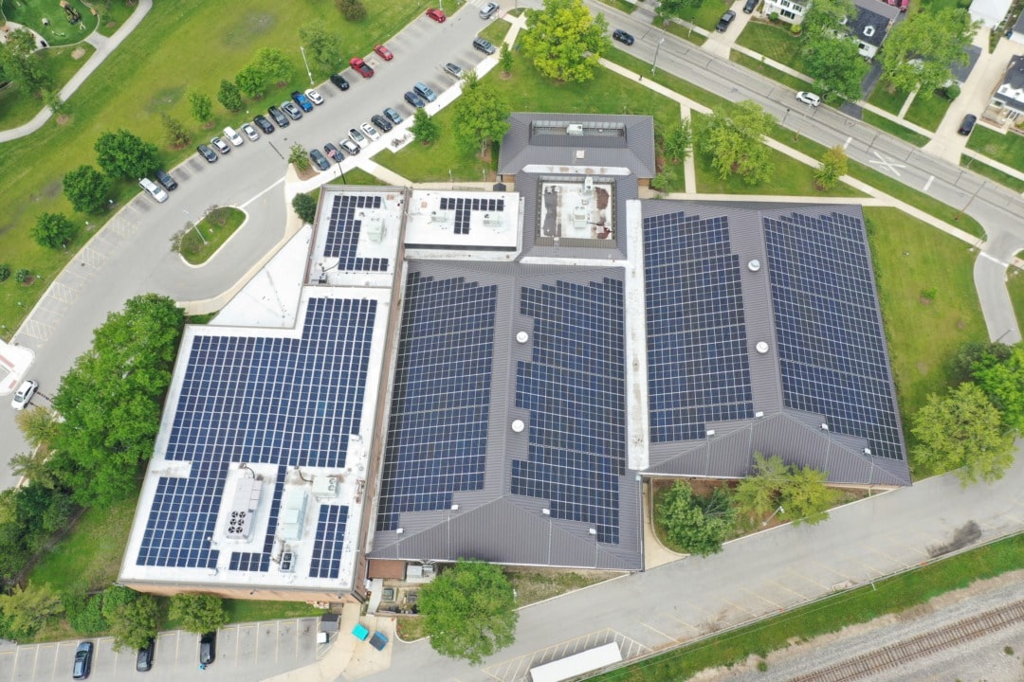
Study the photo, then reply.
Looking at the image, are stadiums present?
No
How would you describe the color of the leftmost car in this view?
white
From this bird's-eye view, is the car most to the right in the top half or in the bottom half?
top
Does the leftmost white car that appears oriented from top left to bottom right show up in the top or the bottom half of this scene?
top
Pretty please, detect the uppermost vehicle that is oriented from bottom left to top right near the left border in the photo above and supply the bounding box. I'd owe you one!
[10,378,40,411]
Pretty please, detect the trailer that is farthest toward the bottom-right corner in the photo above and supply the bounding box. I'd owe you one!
[530,643,622,682]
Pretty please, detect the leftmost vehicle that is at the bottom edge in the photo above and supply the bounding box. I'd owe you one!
[69,641,95,681]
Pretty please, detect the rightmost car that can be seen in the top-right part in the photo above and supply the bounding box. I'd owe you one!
[957,113,977,137]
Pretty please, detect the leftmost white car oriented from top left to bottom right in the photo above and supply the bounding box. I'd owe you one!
[140,176,166,202]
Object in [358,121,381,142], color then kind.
white car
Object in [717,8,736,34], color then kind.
gray vehicle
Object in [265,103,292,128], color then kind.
gray truck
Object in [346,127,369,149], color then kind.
white car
